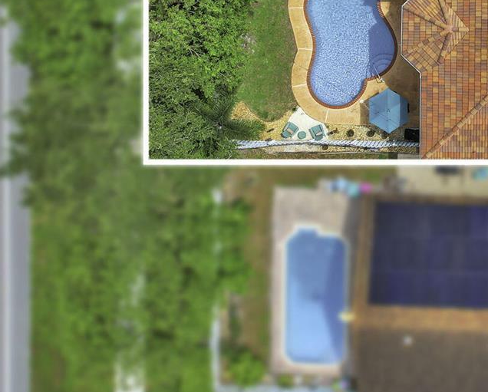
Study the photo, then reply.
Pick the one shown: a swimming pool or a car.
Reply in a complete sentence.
Of the two, only a swimming pool appears.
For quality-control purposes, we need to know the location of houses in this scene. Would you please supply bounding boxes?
[398,0,488,167]
[349,200,488,392]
